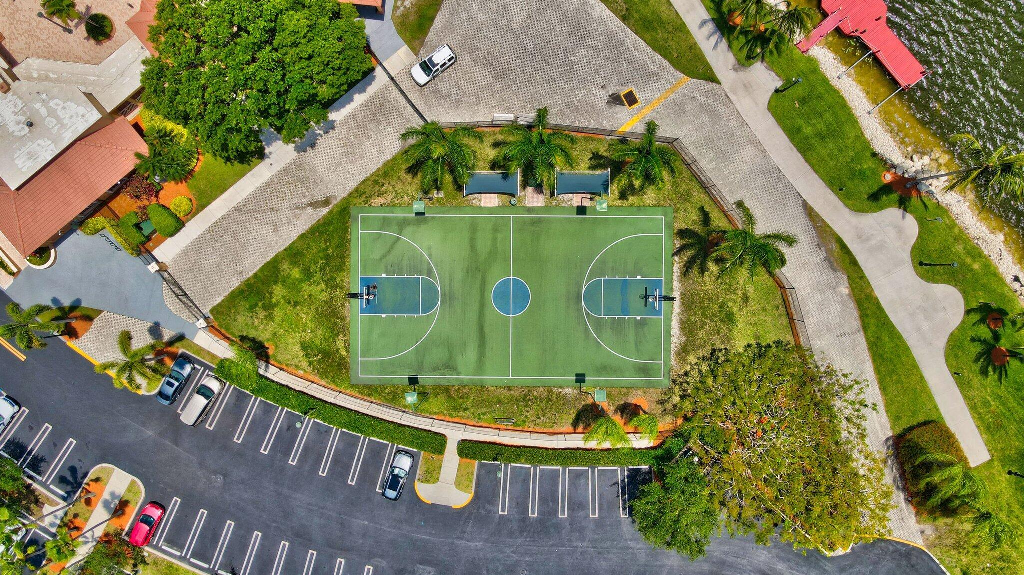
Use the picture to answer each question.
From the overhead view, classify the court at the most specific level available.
basketball court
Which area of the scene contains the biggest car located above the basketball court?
top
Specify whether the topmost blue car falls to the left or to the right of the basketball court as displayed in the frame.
to the left of it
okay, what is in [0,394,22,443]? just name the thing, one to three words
car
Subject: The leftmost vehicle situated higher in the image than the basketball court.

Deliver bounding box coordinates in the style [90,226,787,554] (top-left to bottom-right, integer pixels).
[410,41,459,89]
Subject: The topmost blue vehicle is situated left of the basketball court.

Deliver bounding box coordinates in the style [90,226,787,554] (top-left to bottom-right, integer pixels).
[156,354,196,406]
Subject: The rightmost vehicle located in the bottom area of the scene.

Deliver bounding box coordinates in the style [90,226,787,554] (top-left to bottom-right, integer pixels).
[381,448,416,502]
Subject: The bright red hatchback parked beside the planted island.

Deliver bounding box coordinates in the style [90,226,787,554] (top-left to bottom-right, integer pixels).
[130,498,168,548]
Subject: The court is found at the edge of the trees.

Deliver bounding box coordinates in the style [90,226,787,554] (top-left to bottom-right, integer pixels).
[351,207,674,388]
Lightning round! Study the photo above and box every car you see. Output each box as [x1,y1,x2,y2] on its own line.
[156,354,196,406]
[0,394,22,443]
[410,41,459,89]
[178,373,226,429]
[130,498,168,548]
[381,448,416,502]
